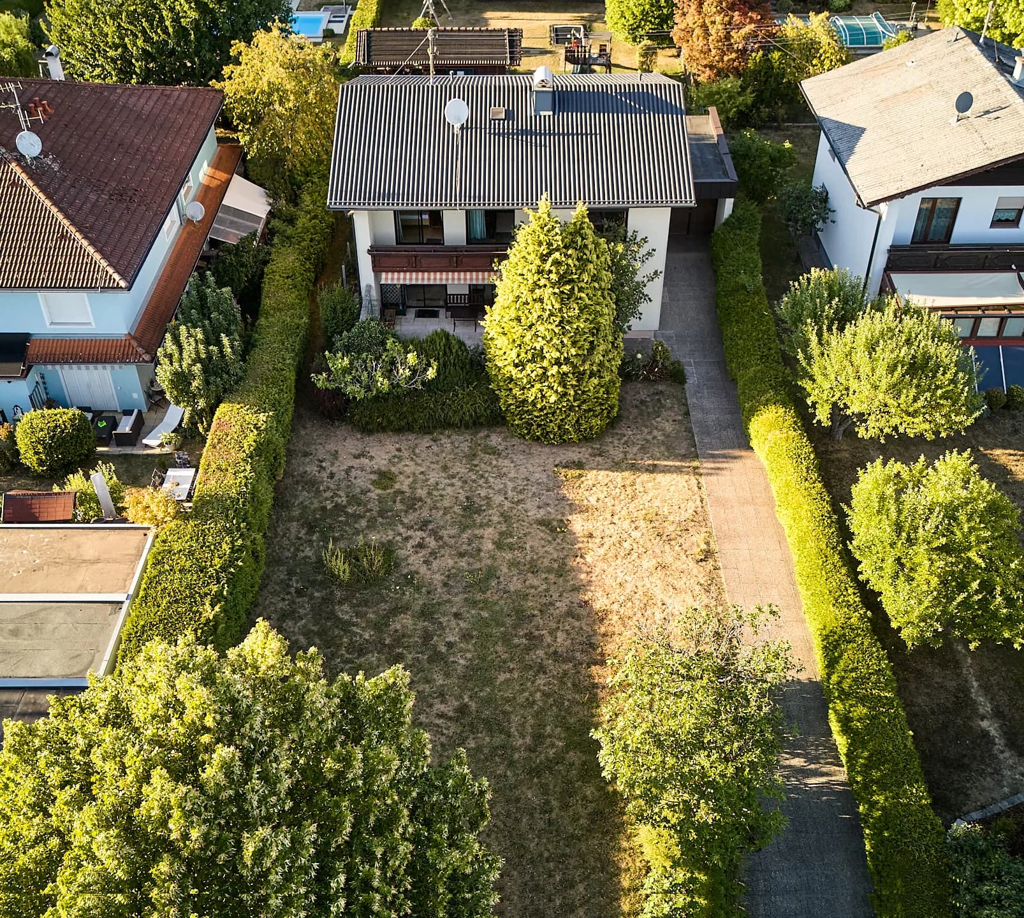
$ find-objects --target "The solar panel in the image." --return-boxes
[0,324,33,375]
